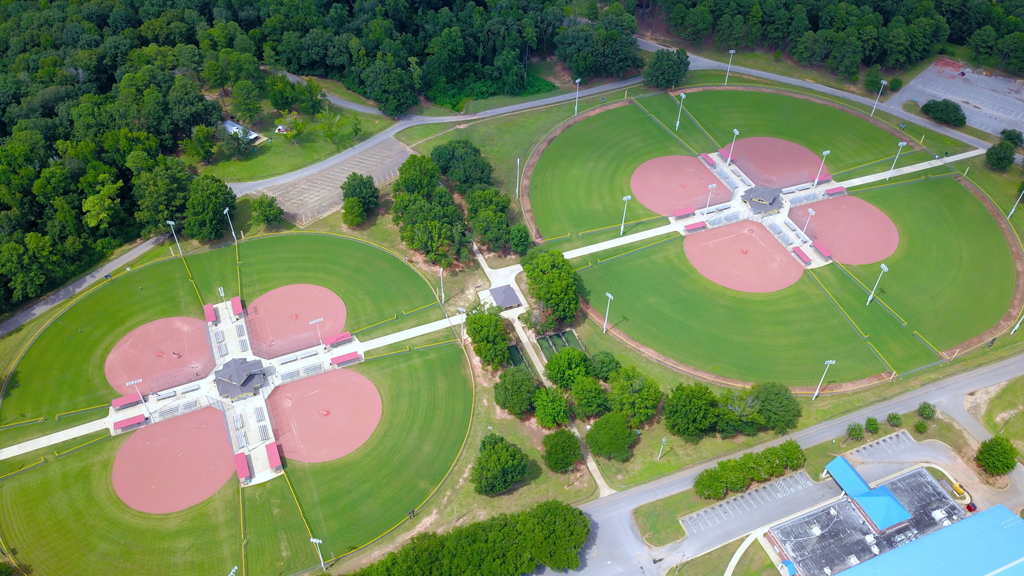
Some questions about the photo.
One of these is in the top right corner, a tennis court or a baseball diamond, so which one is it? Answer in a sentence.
What appears in the top right corner is a baseball diamond.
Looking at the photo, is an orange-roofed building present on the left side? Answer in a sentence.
No, there is no orange-roofed building on the left side.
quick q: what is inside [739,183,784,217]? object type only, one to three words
building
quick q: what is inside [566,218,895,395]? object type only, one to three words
baseball field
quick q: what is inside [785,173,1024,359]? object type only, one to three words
baseball field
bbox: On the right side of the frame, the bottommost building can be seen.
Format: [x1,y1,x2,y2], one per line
[765,458,1024,576]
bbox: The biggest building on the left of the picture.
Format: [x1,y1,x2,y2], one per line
[211,353,267,401]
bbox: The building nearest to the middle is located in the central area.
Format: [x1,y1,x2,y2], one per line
[491,284,521,313]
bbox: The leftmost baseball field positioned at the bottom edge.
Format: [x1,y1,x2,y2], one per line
[0,403,248,576]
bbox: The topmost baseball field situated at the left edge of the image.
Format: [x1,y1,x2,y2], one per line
[0,254,220,428]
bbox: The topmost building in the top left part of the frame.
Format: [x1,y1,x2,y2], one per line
[221,120,266,148]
